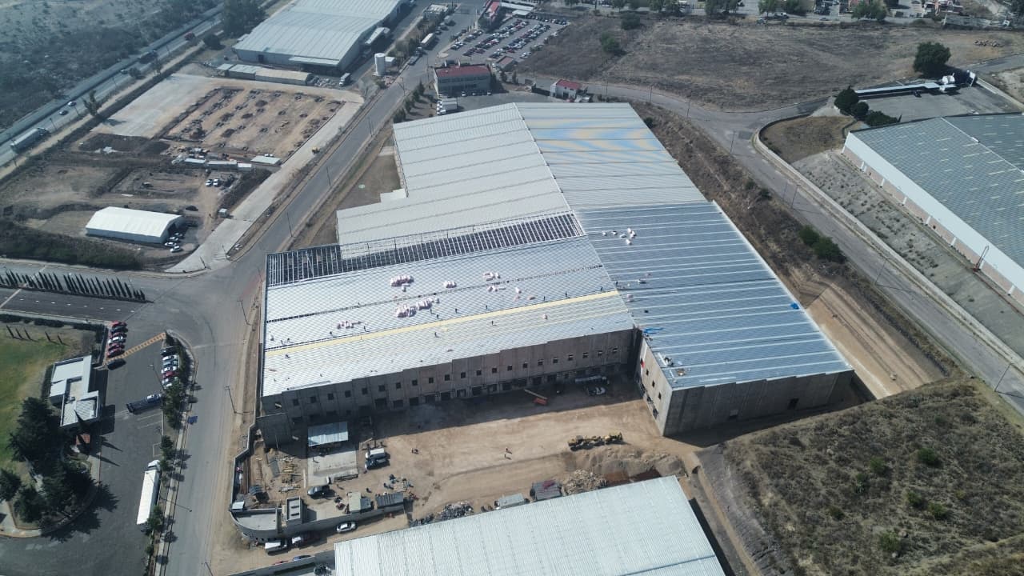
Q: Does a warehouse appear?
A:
Yes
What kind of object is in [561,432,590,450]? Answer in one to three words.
work vehicle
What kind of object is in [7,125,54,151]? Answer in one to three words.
truck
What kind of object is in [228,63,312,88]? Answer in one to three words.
shed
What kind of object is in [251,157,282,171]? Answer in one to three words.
building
